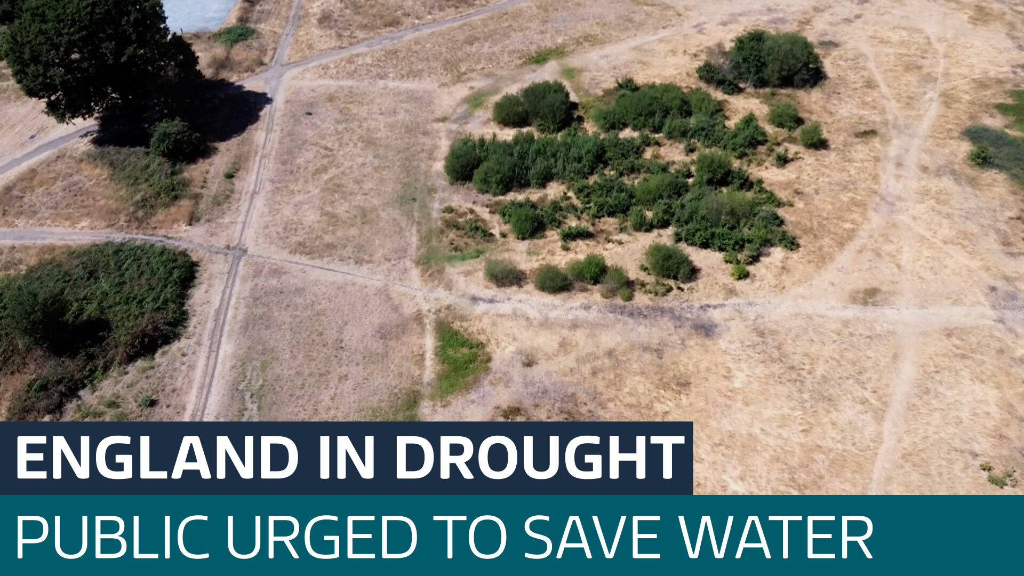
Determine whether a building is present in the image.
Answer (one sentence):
No, I find no building anywhere in the image.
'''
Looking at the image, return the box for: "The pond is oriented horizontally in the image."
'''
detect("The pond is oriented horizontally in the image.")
[70,0,236,37]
